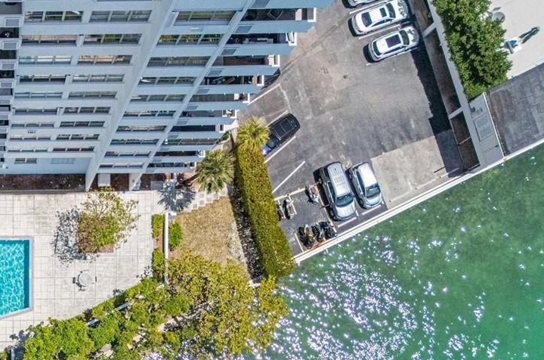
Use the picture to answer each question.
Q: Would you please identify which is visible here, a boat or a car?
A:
car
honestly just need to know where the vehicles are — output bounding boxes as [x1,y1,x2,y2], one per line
[309,181,323,203]
[347,158,382,211]
[312,220,326,240]
[263,110,306,161]
[365,25,420,64]
[301,223,315,243]
[350,0,407,35]
[317,162,358,221]
[322,217,339,237]
[287,196,299,217]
